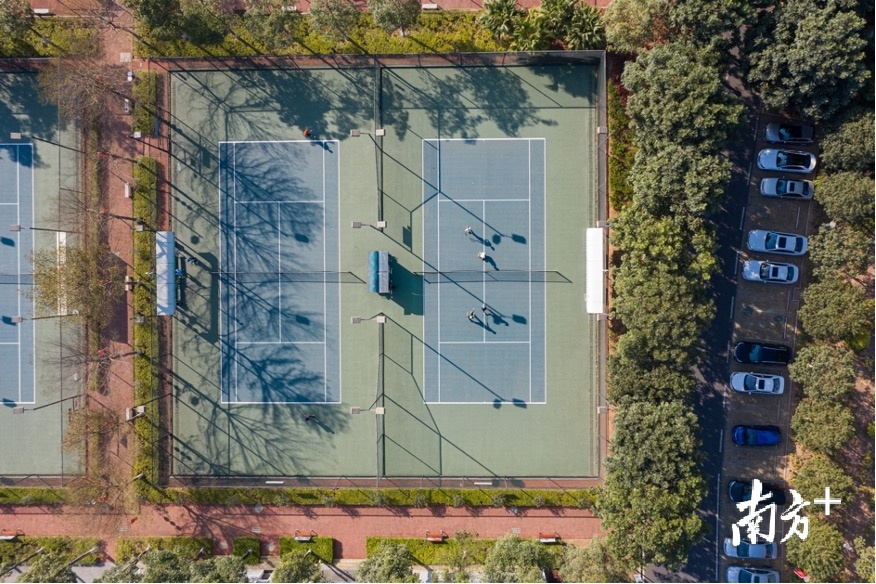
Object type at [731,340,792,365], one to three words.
car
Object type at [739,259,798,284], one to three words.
car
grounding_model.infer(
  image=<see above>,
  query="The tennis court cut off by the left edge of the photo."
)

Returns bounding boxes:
[0,70,83,474]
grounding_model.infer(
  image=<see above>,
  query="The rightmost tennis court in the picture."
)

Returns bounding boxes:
[381,62,597,478]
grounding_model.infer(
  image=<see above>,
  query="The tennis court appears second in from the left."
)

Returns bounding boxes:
[169,66,383,476]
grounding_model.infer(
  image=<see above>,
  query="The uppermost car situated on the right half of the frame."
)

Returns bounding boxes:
[760,120,816,146]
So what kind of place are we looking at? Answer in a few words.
sports ground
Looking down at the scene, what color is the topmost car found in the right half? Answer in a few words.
black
